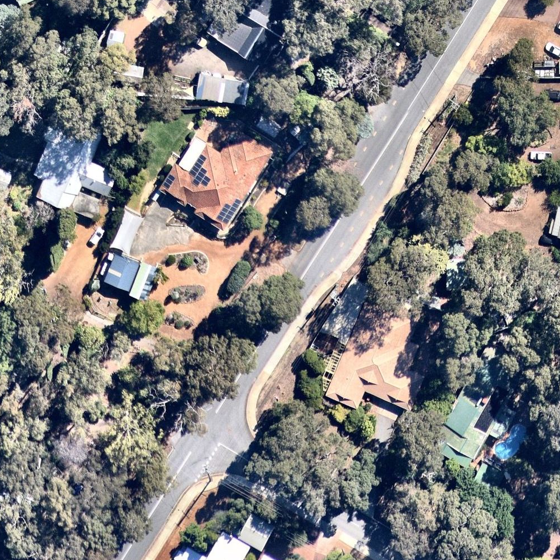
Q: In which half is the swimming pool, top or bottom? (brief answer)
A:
bottom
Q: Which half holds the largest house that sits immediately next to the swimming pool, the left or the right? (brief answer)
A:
right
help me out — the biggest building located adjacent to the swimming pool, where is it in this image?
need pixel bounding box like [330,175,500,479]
[441,387,501,462]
